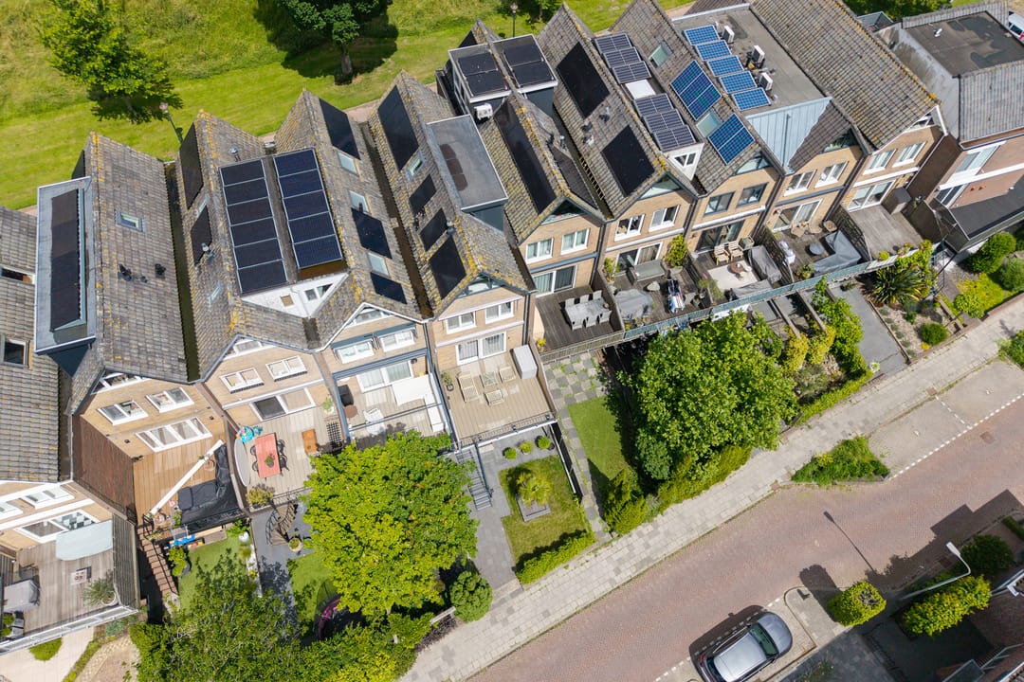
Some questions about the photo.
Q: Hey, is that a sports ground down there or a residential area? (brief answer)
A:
residential area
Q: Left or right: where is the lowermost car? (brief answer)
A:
right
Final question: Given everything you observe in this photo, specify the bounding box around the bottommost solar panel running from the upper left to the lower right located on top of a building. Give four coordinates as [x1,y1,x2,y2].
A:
[371,270,406,305]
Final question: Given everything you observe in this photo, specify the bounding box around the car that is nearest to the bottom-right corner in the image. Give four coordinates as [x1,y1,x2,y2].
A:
[700,612,790,682]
